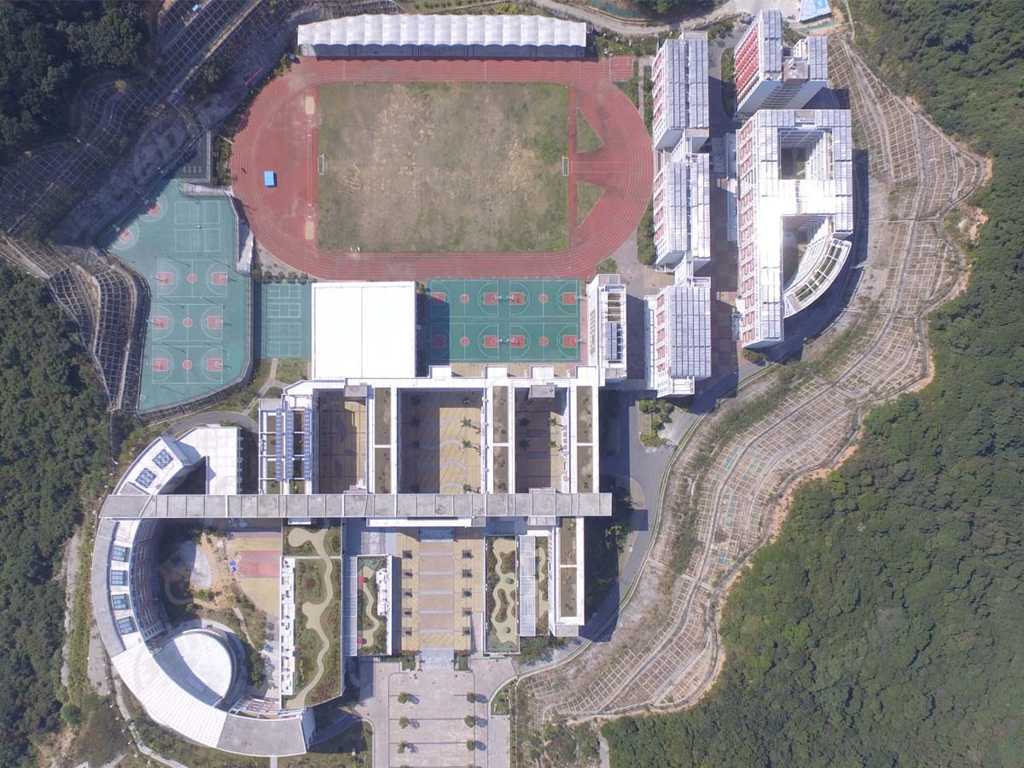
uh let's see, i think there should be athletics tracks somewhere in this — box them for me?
[230,56,650,280]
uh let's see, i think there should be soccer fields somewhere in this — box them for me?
[317,82,569,253]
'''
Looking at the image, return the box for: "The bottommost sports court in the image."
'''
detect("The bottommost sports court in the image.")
[235,532,282,618]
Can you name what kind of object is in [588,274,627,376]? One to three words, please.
building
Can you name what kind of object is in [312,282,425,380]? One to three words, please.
building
